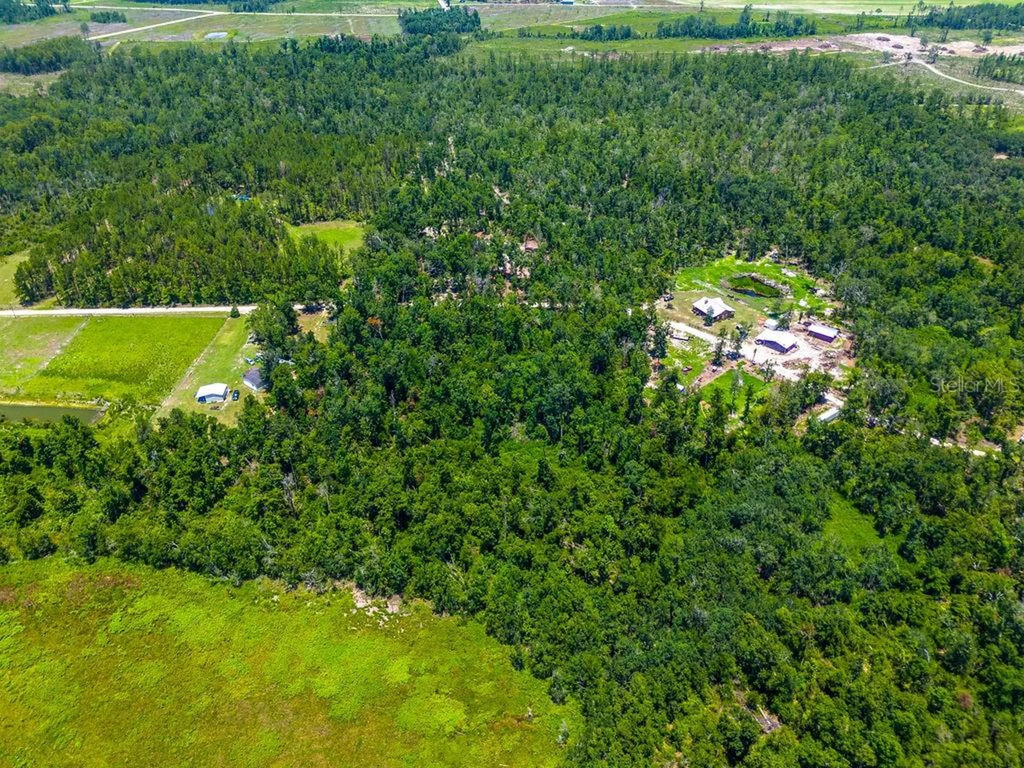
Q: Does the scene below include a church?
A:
No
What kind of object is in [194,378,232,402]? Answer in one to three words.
shed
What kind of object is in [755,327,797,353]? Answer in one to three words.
building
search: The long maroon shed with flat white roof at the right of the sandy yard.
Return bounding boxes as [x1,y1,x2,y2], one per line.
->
[809,323,837,342]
